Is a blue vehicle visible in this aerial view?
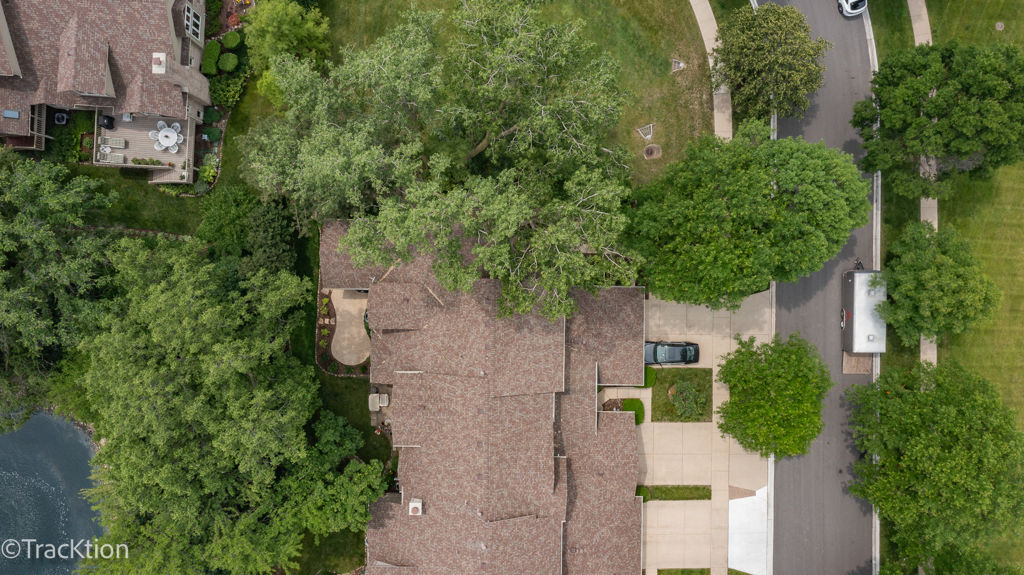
No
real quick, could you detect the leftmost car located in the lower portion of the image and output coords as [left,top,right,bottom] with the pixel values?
[646,339,699,368]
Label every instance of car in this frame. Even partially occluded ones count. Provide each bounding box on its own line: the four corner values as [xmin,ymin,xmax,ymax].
[834,0,867,16]
[646,339,699,368]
